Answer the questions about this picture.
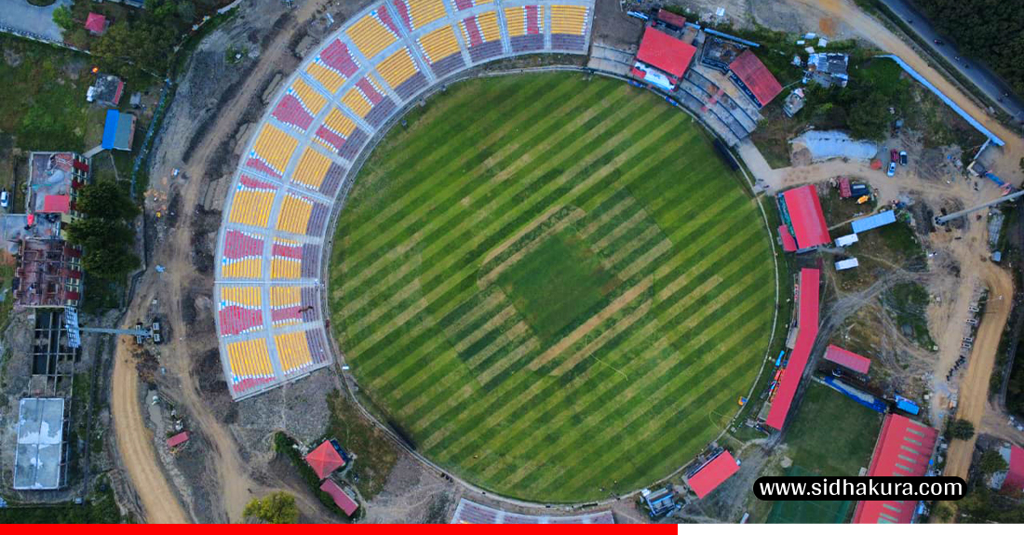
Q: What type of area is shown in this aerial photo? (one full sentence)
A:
This image shows a sports ground.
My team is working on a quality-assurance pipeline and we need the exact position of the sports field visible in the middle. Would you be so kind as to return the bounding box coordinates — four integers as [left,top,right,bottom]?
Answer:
[326,68,779,507]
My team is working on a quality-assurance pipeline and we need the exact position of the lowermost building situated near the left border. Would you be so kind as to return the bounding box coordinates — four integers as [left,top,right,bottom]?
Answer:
[13,398,80,489]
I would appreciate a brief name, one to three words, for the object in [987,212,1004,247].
greenhouse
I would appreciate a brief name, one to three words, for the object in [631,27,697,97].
building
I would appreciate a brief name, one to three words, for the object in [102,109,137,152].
house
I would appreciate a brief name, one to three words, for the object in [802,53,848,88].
shed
